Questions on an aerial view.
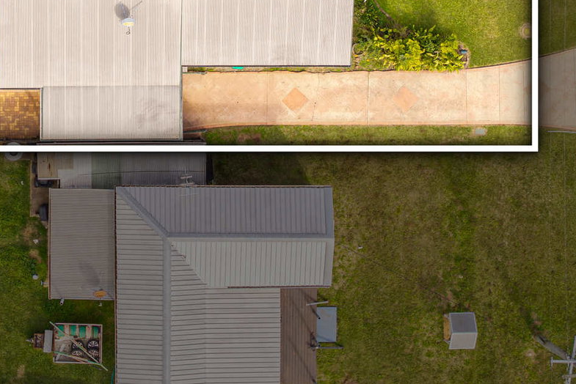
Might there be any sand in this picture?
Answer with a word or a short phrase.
No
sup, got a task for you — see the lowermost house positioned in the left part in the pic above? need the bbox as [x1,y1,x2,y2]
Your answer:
[47,183,338,384]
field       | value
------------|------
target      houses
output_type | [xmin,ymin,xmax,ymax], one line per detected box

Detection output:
[0,0,355,142]
[47,183,338,384]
